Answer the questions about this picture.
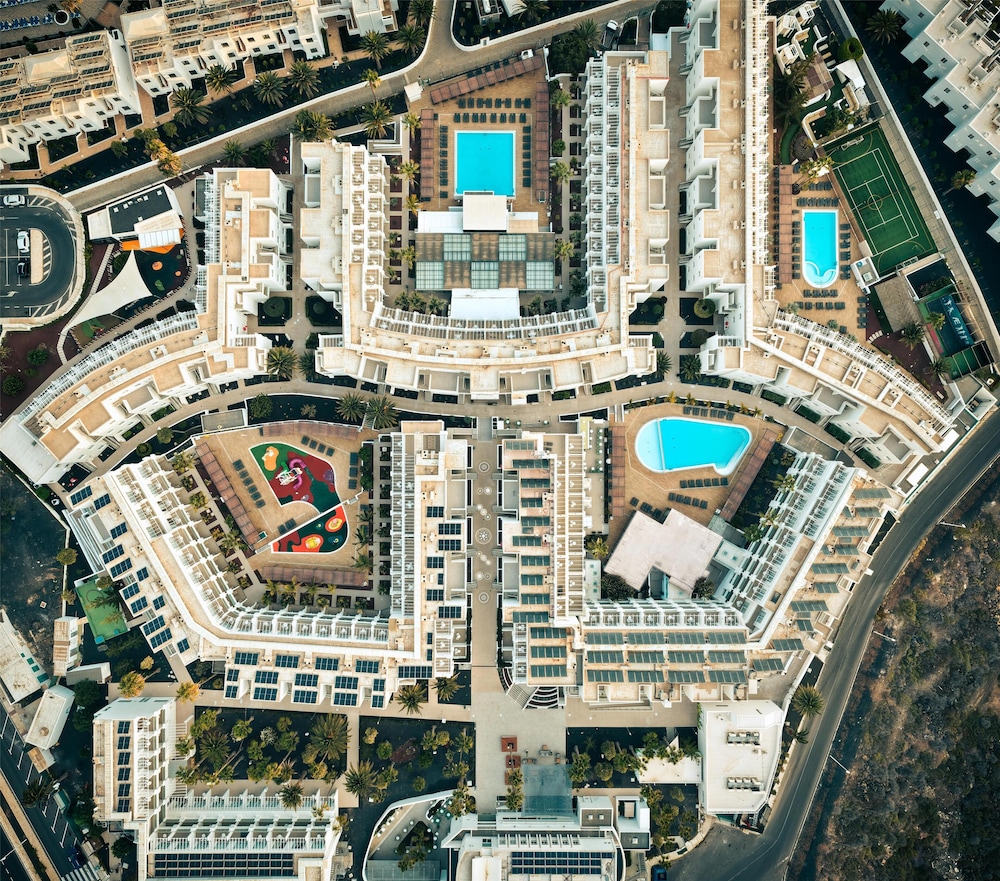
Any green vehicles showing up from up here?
No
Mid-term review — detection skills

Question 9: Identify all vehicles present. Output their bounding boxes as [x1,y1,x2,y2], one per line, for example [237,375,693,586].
[1,192,23,205]
[739,814,757,832]
[15,230,28,252]
[15,254,28,276]
[653,864,666,881]
[599,17,621,52]
[65,847,85,872]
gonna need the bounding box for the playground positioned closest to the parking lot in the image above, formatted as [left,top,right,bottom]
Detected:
[69,234,187,347]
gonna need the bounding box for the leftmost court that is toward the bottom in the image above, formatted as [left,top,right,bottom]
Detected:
[69,569,130,643]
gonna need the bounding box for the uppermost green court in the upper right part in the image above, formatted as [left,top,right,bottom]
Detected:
[820,122,938,277]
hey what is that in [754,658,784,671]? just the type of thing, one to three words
solar panel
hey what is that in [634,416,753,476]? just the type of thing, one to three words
swimming pool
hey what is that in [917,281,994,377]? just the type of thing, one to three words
sports court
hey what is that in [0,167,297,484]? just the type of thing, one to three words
building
